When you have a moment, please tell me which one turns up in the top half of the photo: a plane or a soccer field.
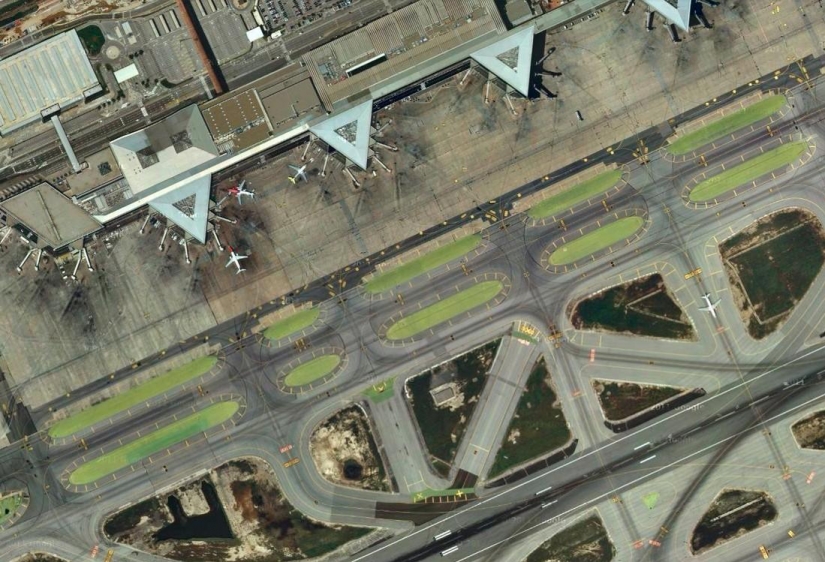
plane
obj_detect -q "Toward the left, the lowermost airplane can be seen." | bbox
[225,246,247,273]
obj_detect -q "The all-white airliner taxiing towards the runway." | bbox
[698,292,721,318]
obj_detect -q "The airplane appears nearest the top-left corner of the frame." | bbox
[228,180,254,205]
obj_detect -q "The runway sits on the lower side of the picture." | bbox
[334,337,825,562]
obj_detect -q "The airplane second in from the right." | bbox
[287,164,307,185]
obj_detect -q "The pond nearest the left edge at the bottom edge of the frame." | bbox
[154,481,234,540]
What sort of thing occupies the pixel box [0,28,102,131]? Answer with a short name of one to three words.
hangar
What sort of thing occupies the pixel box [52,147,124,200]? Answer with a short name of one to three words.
building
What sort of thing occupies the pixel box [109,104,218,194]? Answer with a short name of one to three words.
building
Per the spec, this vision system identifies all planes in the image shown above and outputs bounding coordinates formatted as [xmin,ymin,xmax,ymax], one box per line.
[228,180,254,205]
[698,292,721,318]
[287,164,307,185]
[225,246,247,273]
